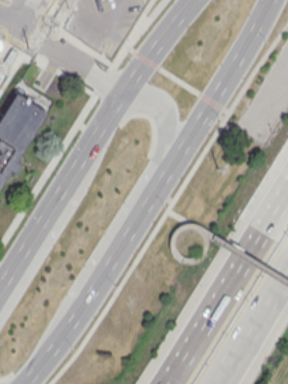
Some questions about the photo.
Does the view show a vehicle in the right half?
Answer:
Yes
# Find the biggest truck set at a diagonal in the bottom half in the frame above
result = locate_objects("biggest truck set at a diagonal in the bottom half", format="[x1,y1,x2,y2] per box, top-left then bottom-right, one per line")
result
[208,294,232,329]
